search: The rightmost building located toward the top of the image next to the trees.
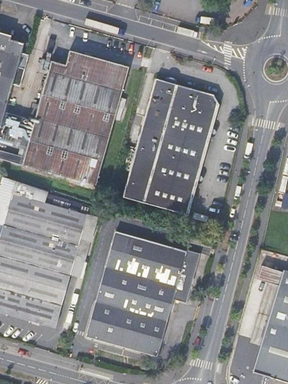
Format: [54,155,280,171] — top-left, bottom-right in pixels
[124,80,219,214]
